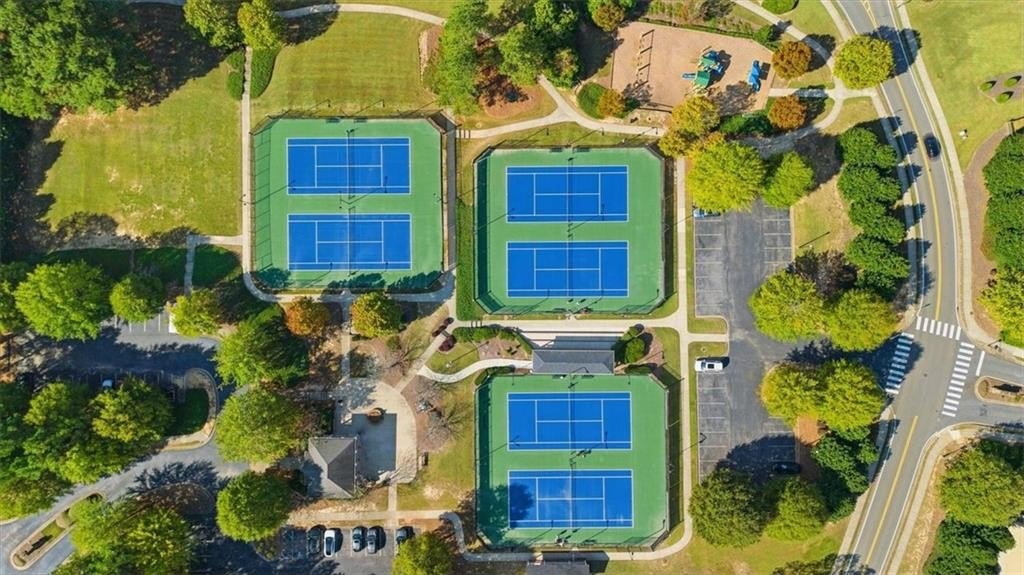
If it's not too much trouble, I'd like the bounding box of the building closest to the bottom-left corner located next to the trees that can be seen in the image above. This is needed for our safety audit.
[309,429,364,498]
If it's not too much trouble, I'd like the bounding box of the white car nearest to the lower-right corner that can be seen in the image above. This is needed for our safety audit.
[696,359,723,371]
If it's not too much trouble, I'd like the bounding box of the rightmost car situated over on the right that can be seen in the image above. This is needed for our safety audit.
[924,134,942,159]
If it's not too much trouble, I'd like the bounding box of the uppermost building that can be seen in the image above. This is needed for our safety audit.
[532,347,615,374]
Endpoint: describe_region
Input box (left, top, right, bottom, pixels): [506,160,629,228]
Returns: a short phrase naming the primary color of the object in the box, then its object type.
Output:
blue tennis court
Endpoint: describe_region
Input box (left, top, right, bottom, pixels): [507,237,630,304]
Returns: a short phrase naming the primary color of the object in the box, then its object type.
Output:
blue tennis court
